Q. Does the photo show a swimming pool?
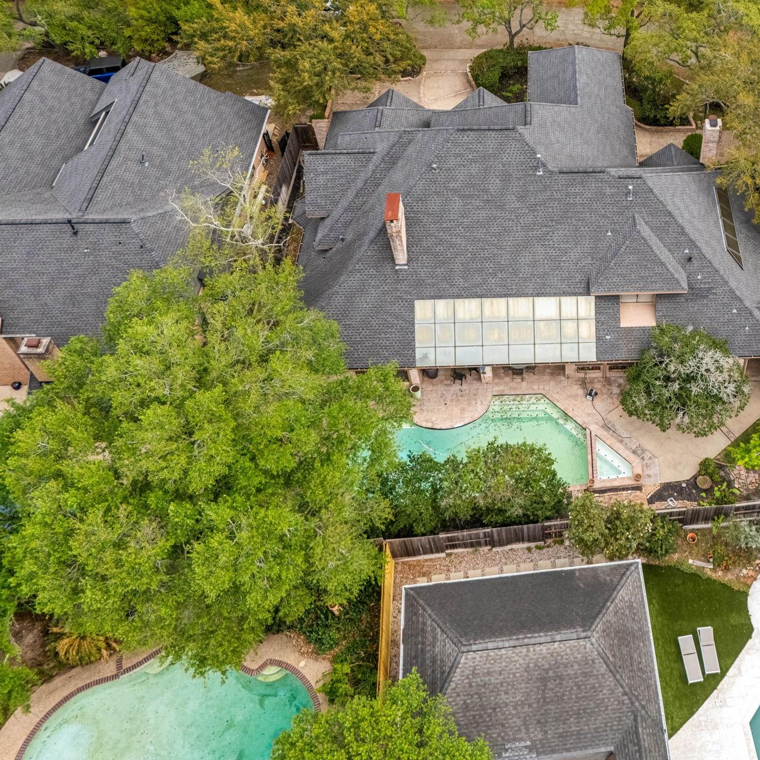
Yes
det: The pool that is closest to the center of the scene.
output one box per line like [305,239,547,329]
[354,394,588,505]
